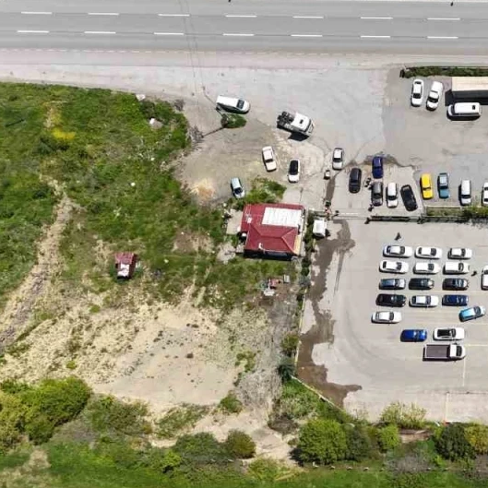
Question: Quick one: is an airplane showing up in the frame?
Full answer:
No, no airplane is visible in the view.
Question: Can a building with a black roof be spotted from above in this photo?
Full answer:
No, no building with a black roof is visible in the view.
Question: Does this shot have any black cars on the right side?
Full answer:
Yes, there is a black car on the right side.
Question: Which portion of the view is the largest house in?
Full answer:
The largest house appears toward the center of the photo.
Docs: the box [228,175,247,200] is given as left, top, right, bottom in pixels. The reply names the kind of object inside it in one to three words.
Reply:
car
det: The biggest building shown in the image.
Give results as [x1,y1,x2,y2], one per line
[241,205,307,255]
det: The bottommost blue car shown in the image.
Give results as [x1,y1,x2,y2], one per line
[400,329,428,341]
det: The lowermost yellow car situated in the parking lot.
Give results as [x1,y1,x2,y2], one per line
[421,172,434,201]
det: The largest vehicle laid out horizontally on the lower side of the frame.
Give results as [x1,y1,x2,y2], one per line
[423,344,466,360]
